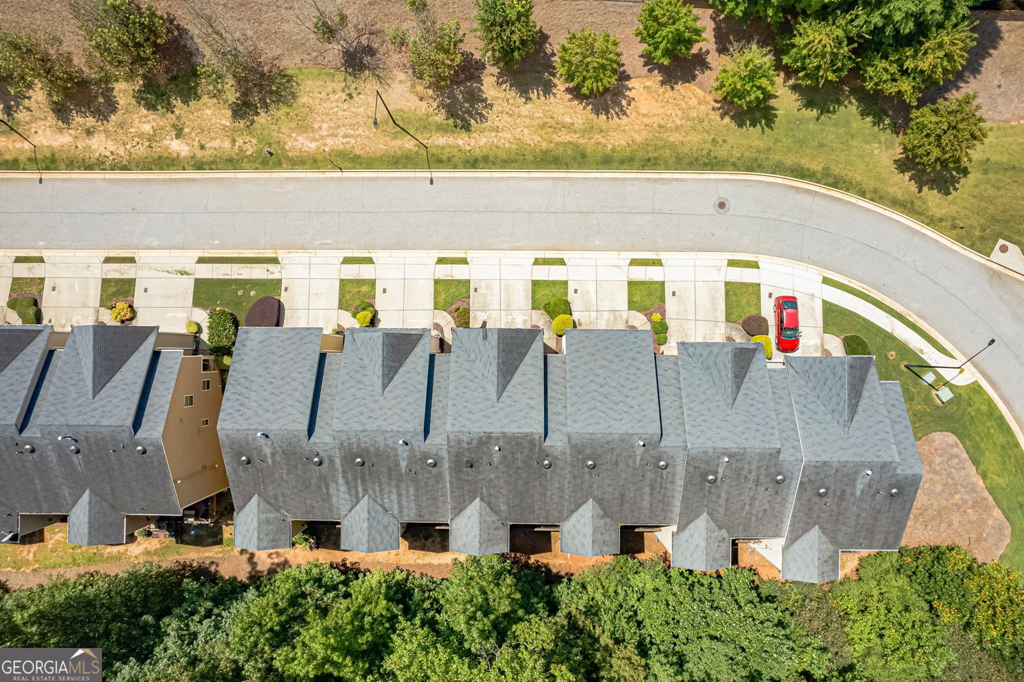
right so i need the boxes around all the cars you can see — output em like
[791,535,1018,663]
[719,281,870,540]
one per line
[772,296,801,353]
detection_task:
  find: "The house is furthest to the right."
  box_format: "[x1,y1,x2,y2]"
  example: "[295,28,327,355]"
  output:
[747,355,924,583]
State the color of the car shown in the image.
red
